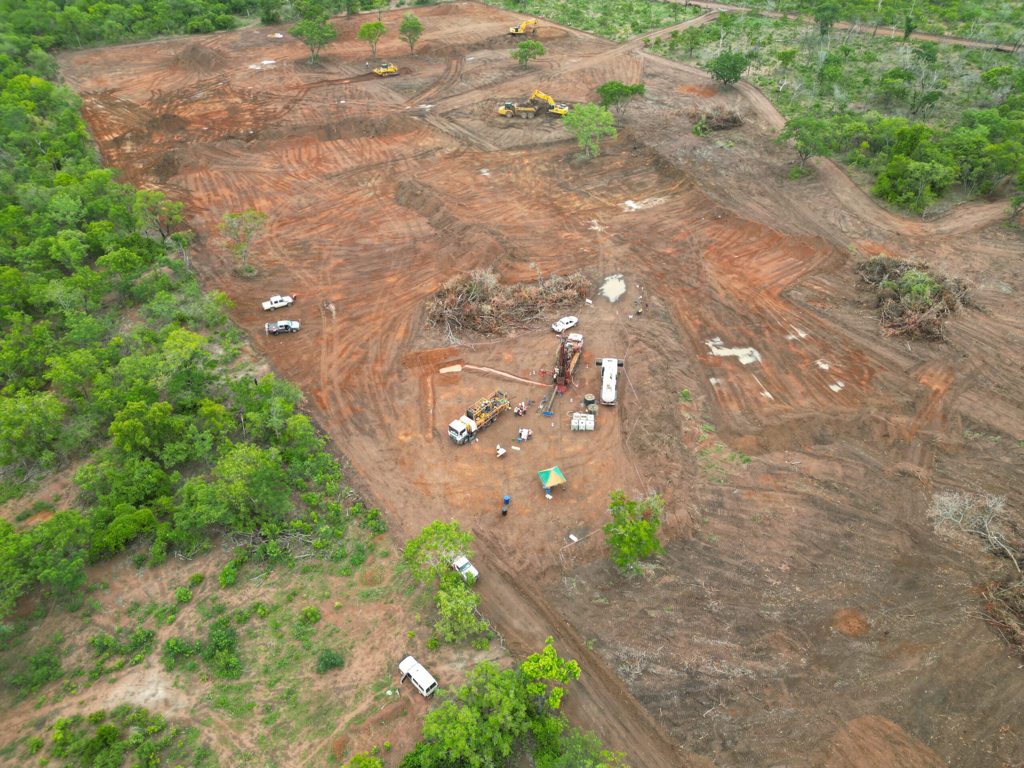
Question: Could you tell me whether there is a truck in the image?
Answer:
Yes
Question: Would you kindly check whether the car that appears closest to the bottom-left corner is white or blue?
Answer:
white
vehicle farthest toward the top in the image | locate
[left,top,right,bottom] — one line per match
[508,15,538,35]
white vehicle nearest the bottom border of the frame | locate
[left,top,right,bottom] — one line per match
[394,653,437,701]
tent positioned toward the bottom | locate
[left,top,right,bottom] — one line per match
[537,466,566,496]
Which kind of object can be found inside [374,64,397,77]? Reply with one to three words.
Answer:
vehicle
